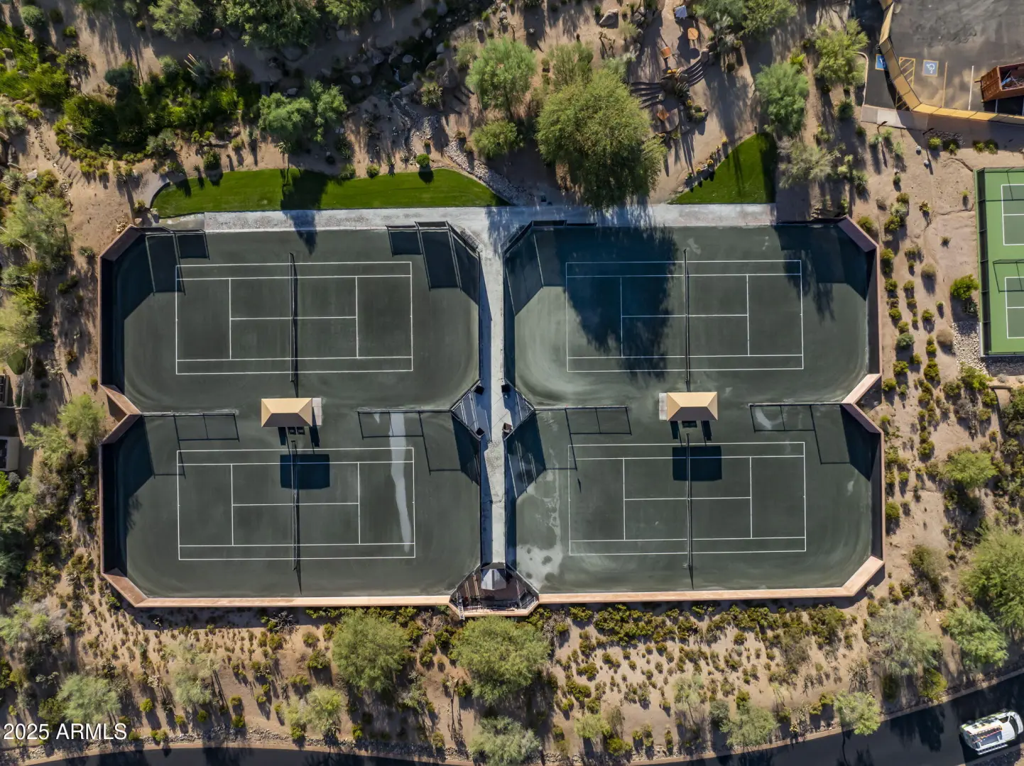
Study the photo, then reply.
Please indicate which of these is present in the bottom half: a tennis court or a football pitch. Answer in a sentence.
What appears in the bottom half is a tennis court.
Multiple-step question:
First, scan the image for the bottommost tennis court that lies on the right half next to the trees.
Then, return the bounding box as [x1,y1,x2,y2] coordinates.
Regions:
[505,403,871,594]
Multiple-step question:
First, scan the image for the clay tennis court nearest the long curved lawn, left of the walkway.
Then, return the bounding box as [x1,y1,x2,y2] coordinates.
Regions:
[114,228,480,412]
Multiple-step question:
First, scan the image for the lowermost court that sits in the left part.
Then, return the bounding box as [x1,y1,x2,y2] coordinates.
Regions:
[115,411,481,598]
